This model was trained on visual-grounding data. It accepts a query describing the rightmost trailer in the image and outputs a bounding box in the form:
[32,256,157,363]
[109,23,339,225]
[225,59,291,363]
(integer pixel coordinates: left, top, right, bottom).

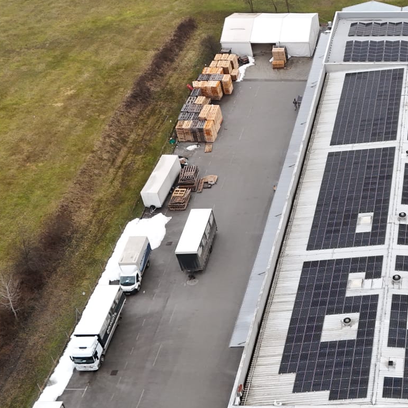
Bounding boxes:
[173,208,217,286]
